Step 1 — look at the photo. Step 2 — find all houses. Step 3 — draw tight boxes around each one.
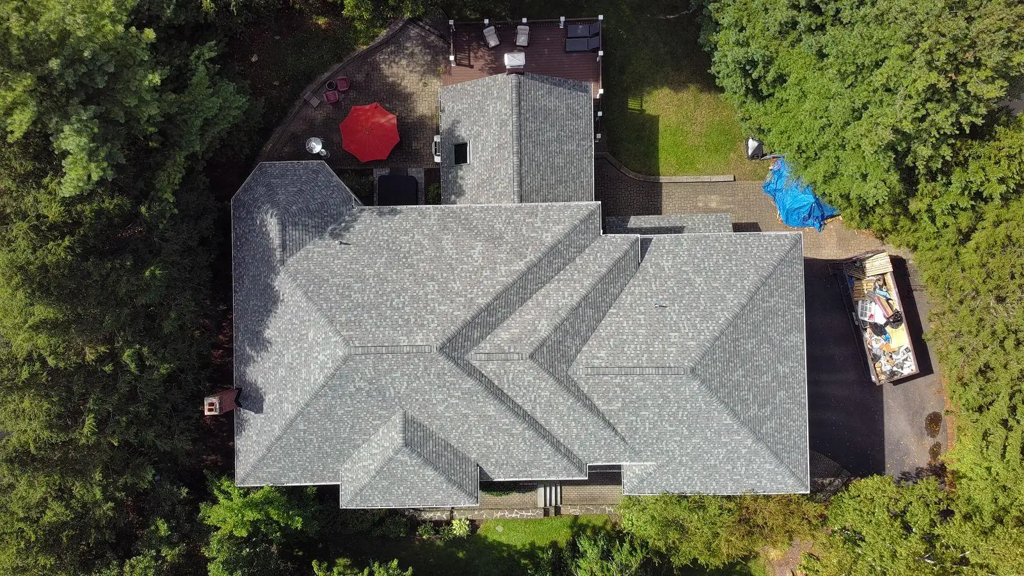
[204,72,811,511]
